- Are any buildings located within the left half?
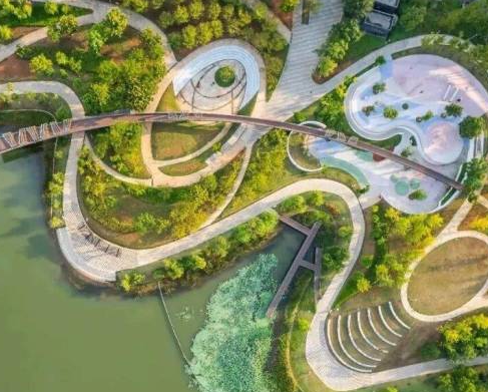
No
